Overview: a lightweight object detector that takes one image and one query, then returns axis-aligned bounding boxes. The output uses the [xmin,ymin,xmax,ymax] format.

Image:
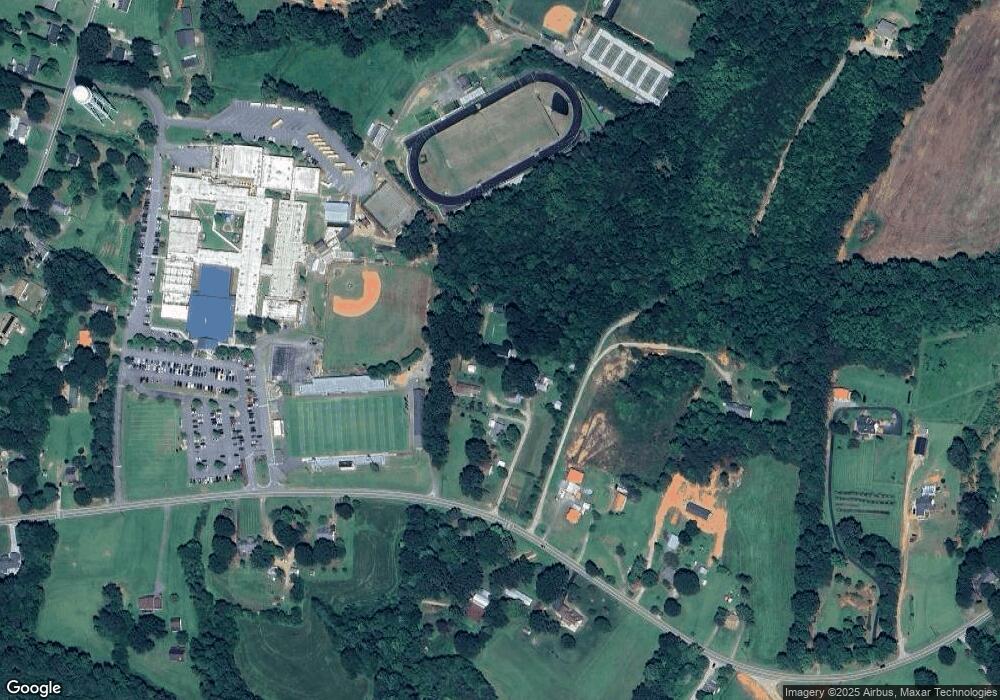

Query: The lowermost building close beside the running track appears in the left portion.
[160,144,323,350]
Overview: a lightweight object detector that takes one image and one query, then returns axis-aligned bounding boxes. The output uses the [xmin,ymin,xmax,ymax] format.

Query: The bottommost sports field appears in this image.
[286,393,411,459]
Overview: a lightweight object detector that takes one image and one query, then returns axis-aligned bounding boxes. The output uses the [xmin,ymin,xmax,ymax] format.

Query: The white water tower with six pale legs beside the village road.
[67,81,119,127]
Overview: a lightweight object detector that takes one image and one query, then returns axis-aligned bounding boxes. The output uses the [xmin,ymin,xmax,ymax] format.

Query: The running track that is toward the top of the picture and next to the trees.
[402,72,583,205]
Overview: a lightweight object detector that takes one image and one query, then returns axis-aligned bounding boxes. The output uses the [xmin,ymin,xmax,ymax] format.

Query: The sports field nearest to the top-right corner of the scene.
[616,0,697,55]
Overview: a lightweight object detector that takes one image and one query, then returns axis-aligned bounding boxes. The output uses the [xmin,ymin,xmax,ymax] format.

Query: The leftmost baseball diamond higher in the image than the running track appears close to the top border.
[511,0,589,37]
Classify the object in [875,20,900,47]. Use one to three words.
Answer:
house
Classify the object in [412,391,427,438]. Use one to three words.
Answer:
building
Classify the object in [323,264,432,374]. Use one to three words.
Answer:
baseball field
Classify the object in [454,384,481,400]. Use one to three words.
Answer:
house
